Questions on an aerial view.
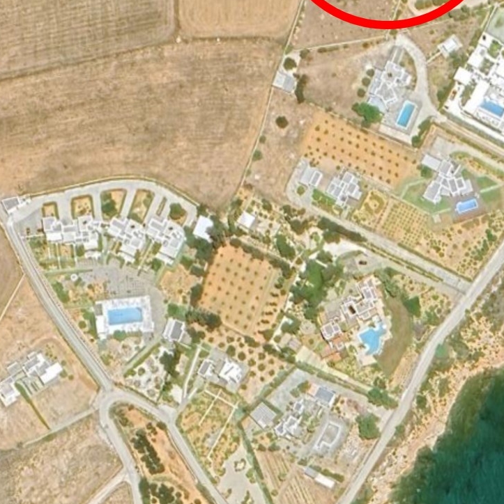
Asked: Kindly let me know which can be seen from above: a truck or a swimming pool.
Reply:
swimming pool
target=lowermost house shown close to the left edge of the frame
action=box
[0,352,62,407]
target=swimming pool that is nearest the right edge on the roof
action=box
[480,98,504,119]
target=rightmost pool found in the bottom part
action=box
[357,321,387,356]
